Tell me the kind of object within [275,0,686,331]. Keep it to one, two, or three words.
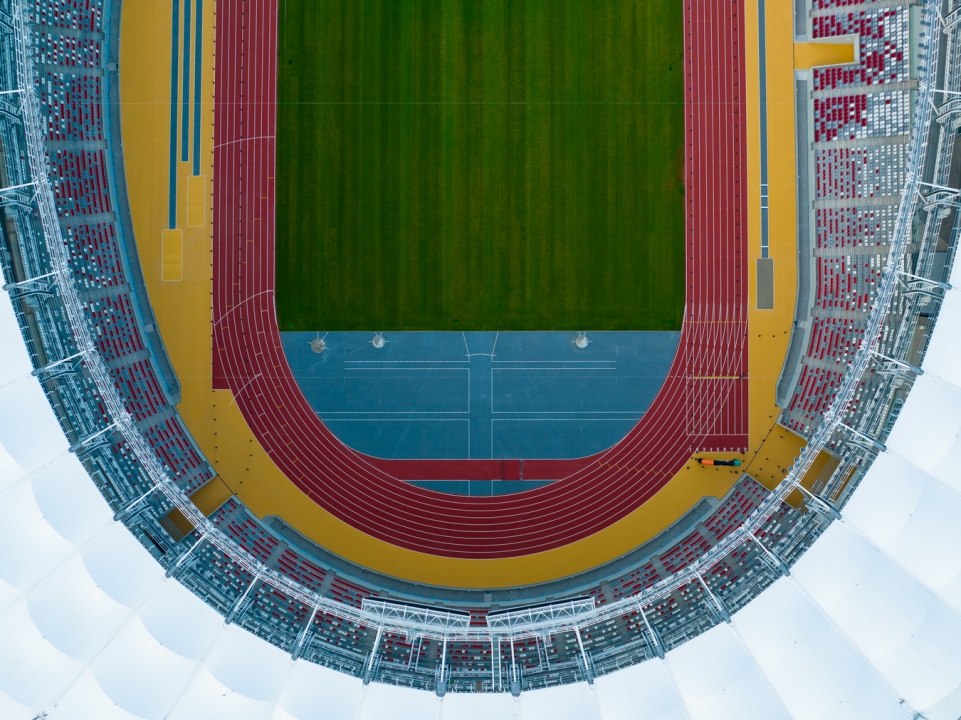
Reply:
soccer field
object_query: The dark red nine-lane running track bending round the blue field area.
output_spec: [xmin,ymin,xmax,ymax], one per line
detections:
[212,0,749,560]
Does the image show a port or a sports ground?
sports ground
